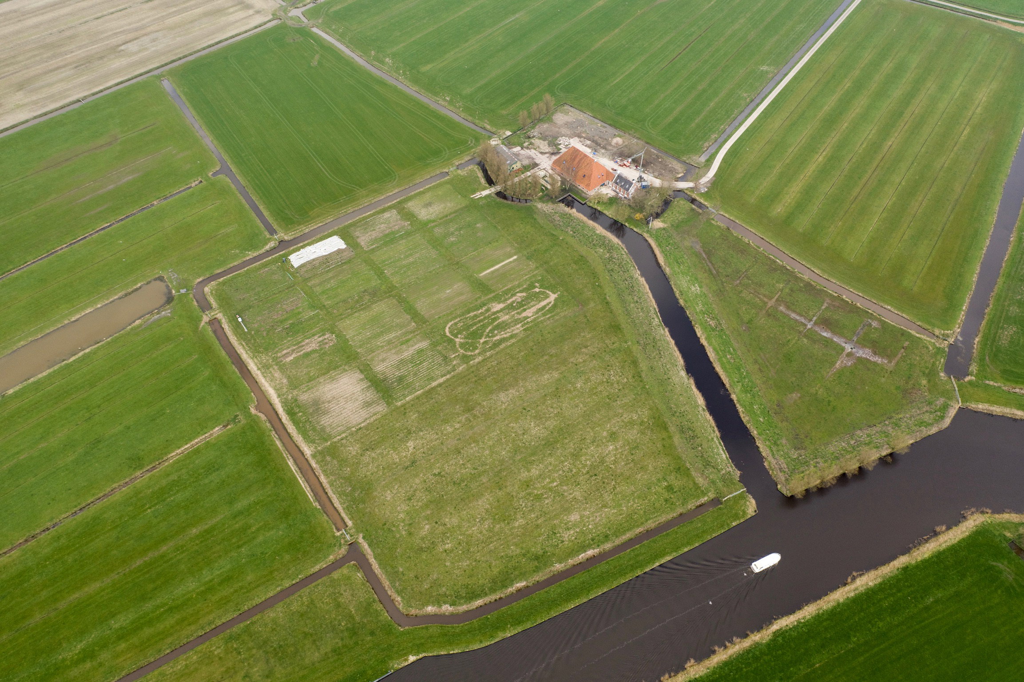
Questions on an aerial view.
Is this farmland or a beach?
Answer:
farmland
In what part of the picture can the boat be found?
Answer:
bottom right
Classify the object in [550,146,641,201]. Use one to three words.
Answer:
house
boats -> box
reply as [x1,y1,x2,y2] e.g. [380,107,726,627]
[751,552,779,572]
